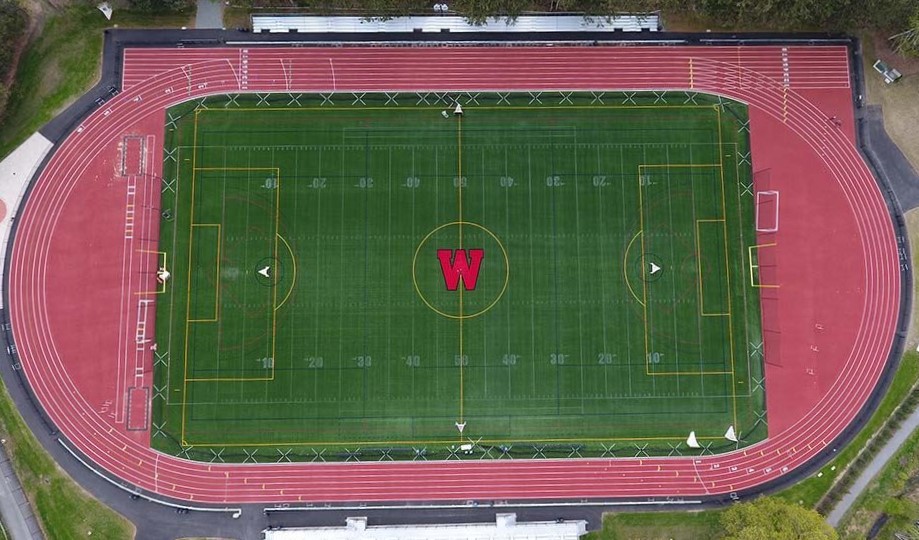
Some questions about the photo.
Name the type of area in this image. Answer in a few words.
sports ground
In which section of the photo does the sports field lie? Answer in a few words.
center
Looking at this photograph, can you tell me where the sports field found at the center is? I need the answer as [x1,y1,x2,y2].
[151,91,769,463]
